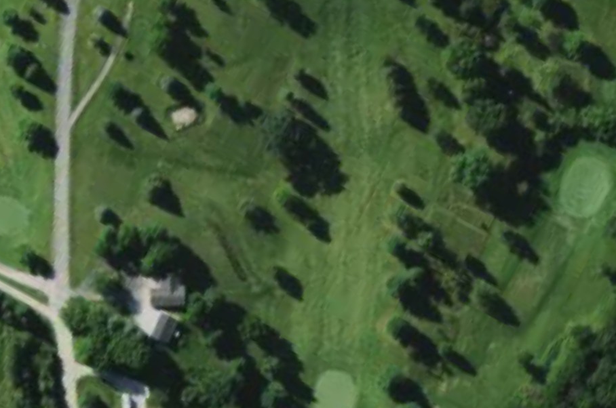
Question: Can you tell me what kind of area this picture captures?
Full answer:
This looks like a golf course.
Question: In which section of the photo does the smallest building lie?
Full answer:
The smallest building sits in the bottom left section of the image.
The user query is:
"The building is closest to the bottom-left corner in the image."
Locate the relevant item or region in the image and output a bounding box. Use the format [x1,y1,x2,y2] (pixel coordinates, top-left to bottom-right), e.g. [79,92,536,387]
[151,309,178,344]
